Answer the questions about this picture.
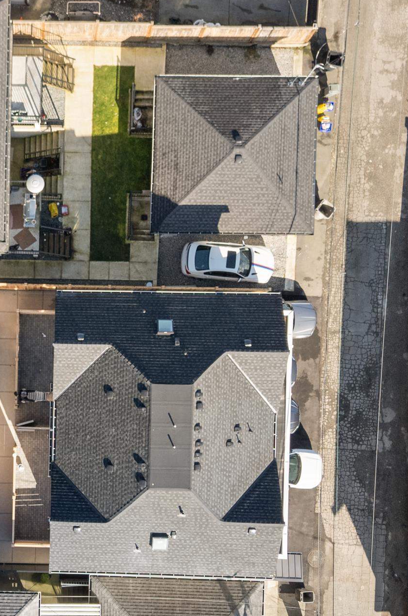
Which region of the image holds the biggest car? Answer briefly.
center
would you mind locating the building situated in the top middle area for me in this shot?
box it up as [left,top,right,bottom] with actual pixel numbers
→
[147,52,331,238]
